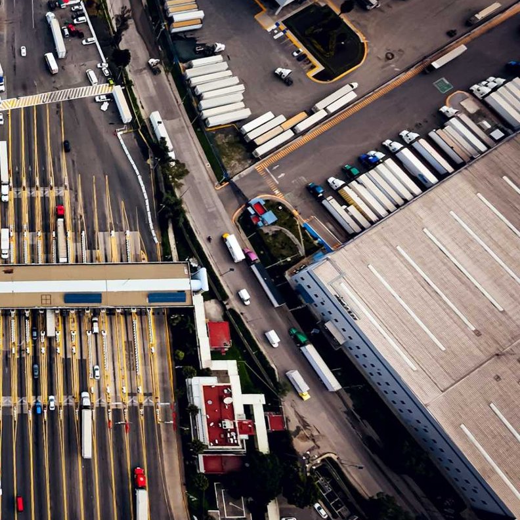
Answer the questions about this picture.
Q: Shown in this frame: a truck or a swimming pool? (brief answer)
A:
truck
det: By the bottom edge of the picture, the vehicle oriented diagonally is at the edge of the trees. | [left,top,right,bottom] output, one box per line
[313,503,326,519]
